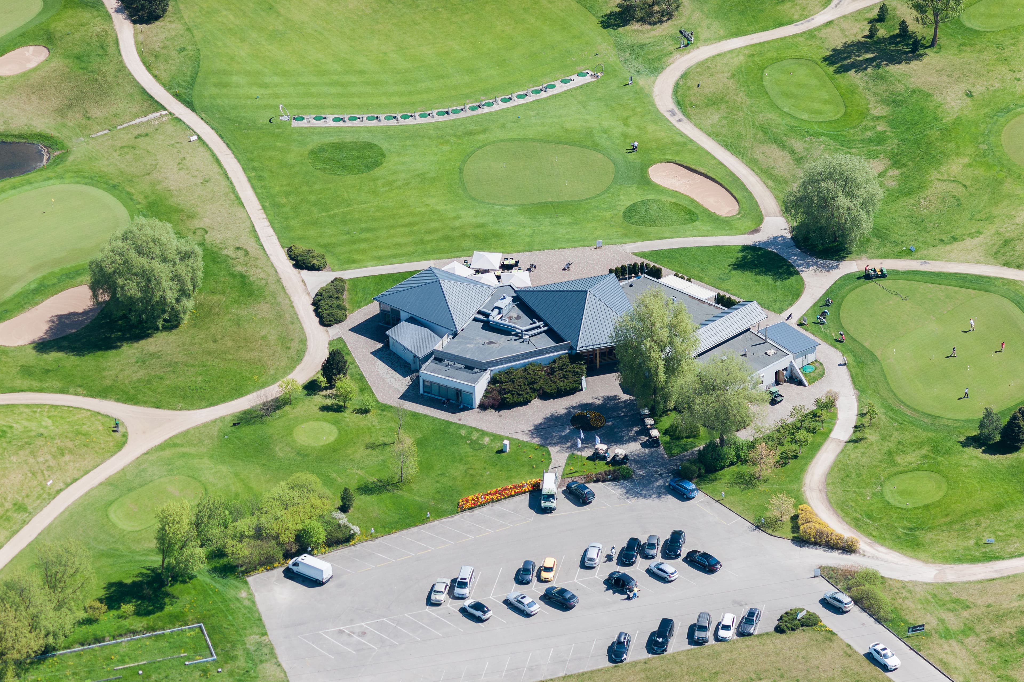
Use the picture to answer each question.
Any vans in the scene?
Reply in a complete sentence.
Yes, I can see a van in this picture.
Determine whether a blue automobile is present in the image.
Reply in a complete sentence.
Yes, there is a blue automobile in the image.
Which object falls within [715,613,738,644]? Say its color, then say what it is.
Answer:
white car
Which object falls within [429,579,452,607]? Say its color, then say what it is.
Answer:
white car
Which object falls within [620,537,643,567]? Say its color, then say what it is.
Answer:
black car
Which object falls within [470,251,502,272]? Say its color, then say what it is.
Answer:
white umbrella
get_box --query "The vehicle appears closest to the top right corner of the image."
[865,267,888,279]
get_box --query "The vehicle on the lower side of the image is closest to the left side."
[285,553,332,587]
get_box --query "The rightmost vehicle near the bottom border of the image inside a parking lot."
[864,644,905,673]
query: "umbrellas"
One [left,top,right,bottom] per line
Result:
[500,271,532,288]
[470,251,502,272]
[466,272,499,286]
[440,261,475,278]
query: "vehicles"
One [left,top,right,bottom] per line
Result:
[766,384,787,405]
[285,553,332,587]
[583,544,604,570]
[543,588,582,612]
[738,607,761,638]
[605,571,640,594]
[452,565,476,599]
[685,551,725,575]
[649,618,673,655]
[642,536,662,561]
[539,558,559,583]
[504,593,543,617]
[539,466,559,515]
[865,267,888,279]
[665,530,688,561]
[562,483,600,506]
[819,592,857,617]
[715,613,738,644]
[864,644,905,673]
[620,537,643,567]
[649,430,661,450]
[592,444,611,464]
[690,612,714,645]
[429,579,452,607]
[666,479,702,502]
[517,561,538,586]
[460,600,495,623]
[647,562,682,584]
[611,448,628,465]
[607,631,631,664]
